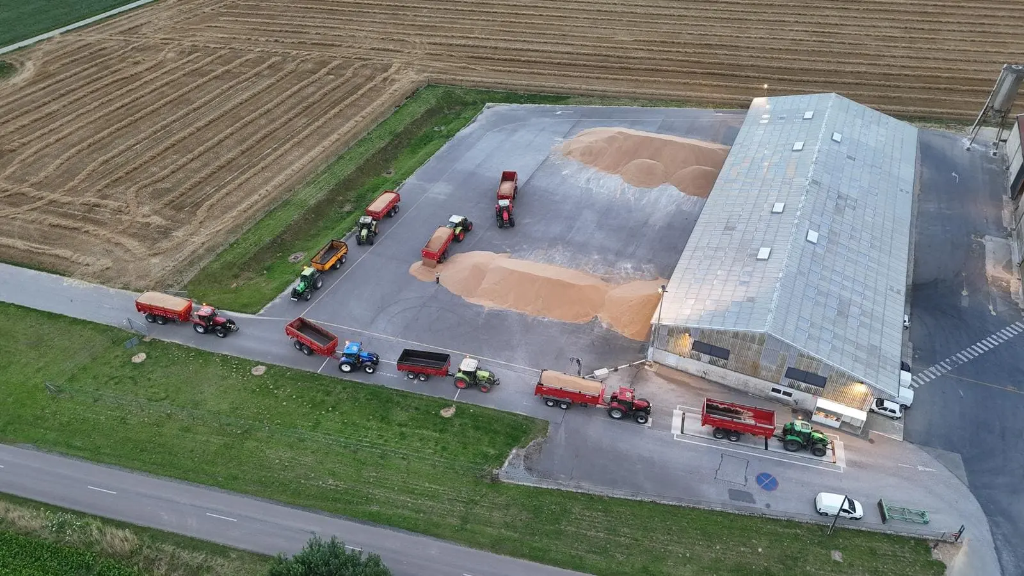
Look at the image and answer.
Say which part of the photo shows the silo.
top right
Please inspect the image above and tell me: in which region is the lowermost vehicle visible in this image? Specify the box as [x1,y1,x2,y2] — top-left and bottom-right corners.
[815,495,863,523]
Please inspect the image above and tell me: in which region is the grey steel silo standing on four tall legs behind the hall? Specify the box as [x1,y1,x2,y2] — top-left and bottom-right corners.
[968,60,1024,152]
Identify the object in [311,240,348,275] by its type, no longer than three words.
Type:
trailer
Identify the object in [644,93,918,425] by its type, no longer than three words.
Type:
building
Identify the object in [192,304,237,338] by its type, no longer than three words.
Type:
work vehicle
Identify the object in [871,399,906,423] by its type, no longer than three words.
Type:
car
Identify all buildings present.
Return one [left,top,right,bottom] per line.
[1003,110,1024,367]
[644,93,918,425]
